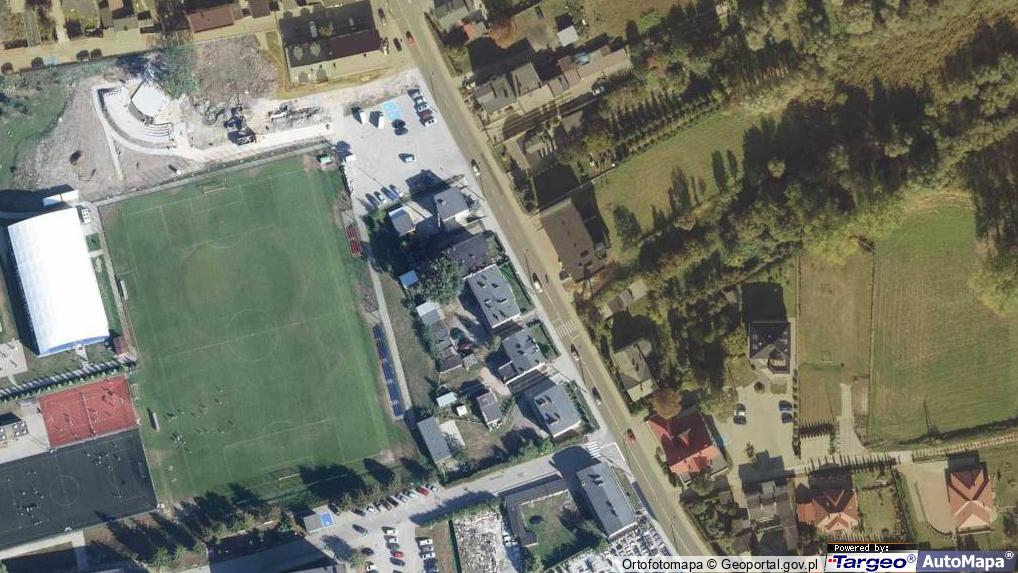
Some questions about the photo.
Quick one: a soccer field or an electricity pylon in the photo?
soccer field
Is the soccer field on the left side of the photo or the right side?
left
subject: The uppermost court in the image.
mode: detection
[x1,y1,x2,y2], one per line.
[38,377,139,447]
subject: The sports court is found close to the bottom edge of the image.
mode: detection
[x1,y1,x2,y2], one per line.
[0,428,158,552]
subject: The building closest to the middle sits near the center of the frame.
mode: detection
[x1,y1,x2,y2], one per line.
[464,263,523,330]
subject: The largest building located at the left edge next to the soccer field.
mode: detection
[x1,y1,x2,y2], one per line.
[8,209,108,359]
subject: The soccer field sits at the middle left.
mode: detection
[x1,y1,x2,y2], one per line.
[104,155,408,508]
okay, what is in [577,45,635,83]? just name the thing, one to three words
barn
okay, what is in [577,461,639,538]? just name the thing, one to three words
building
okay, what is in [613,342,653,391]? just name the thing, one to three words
house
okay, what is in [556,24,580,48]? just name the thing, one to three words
shed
